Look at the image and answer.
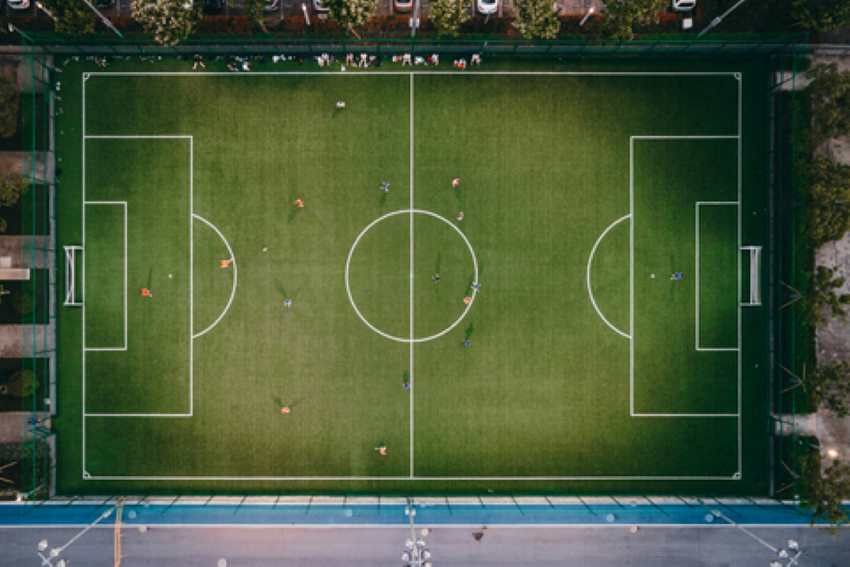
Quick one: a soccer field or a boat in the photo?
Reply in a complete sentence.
The one in the frame is a soccer field.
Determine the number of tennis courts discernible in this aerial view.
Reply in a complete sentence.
There are no tennis courts in this view.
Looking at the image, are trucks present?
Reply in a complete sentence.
No, I can't see a single truck in this photo.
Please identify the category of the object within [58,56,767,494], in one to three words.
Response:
soccer field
